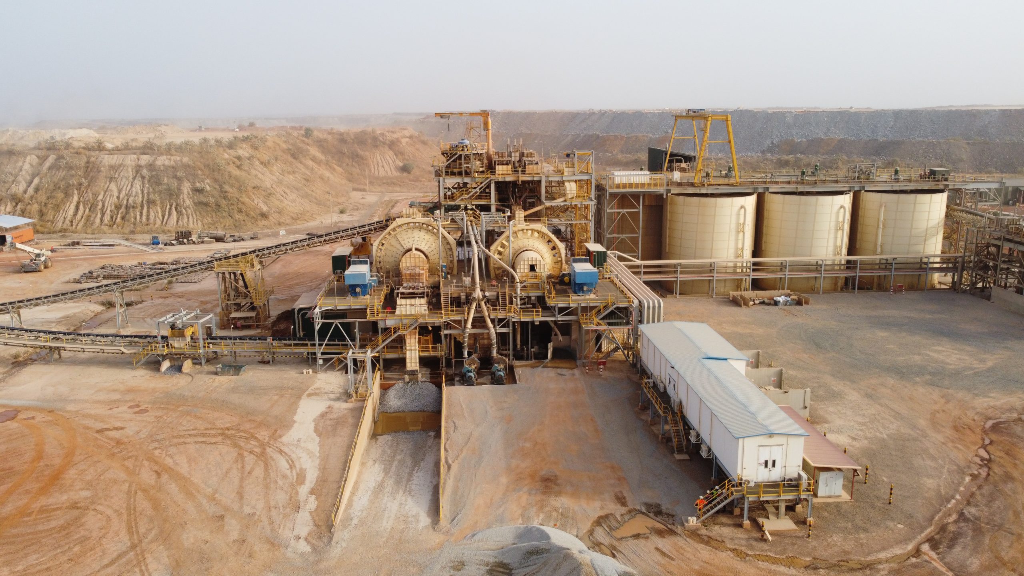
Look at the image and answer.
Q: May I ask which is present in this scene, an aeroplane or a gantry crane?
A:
gantry crane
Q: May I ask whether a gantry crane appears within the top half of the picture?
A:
Yes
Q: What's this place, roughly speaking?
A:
industrial area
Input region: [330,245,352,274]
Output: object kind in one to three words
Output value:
shed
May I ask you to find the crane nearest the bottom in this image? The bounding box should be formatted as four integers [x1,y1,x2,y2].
[0,234,67,272]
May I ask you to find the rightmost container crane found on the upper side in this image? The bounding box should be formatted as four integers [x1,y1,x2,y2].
[660,105,743,185]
